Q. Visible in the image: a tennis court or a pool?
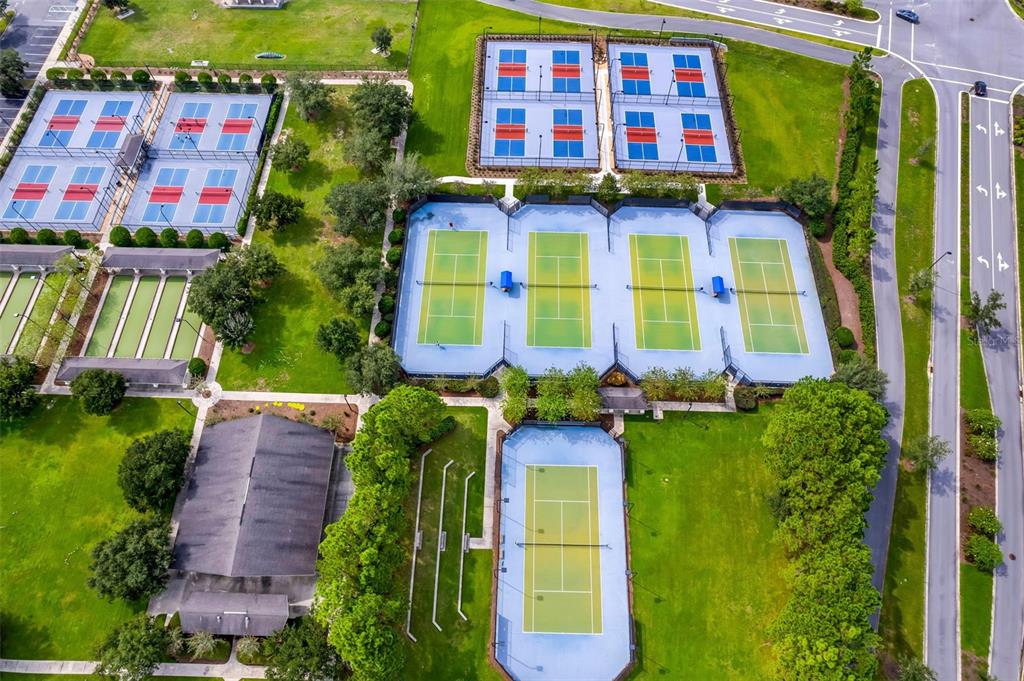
tennis court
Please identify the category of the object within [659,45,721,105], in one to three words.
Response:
sports court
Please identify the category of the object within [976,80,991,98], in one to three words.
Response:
car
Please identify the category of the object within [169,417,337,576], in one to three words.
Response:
building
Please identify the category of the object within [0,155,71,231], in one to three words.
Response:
sports court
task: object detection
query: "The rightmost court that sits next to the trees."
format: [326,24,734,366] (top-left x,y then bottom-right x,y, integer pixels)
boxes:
[706,210,835,382]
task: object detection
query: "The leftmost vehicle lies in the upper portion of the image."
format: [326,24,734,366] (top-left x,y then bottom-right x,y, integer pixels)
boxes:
[897,9,921,22]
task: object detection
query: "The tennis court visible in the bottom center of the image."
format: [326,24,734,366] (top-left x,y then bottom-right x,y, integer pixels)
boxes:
[496,426,630,681]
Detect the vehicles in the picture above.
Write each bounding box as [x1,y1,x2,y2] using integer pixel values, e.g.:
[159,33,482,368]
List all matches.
[976,80,991,98]
[897,9,921,22]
